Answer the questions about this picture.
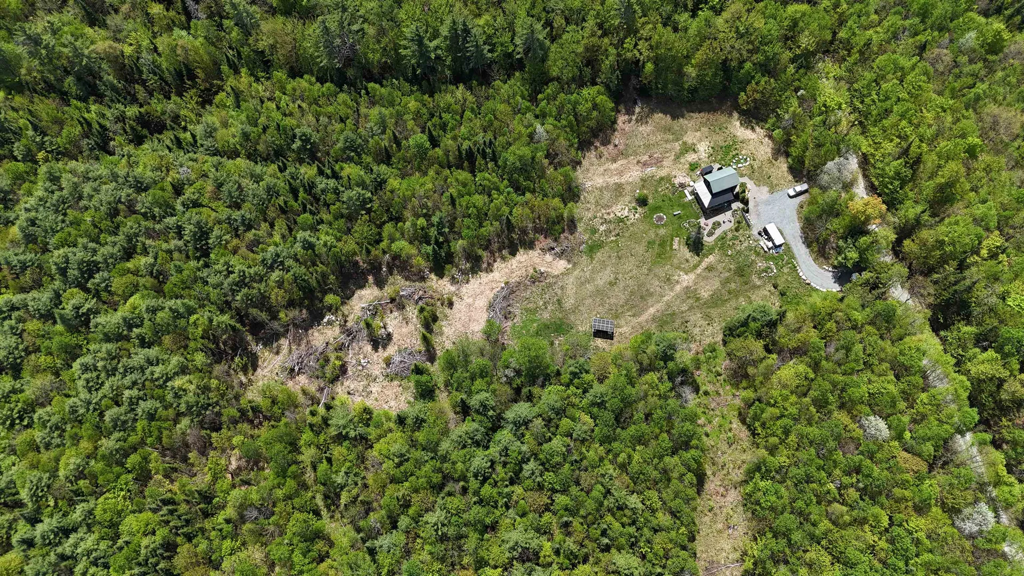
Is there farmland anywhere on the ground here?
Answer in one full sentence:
No, the picture contains no farmland.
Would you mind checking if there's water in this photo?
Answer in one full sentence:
No, water can't be seen anywhere here.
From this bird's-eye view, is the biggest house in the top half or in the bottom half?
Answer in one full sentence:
Seen from above, the biggest house lies in the top half of the view.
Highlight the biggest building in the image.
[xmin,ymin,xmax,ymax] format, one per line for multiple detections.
[694,166,739,216]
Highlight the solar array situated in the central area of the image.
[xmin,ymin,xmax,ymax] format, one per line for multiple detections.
[592,318,614,332]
